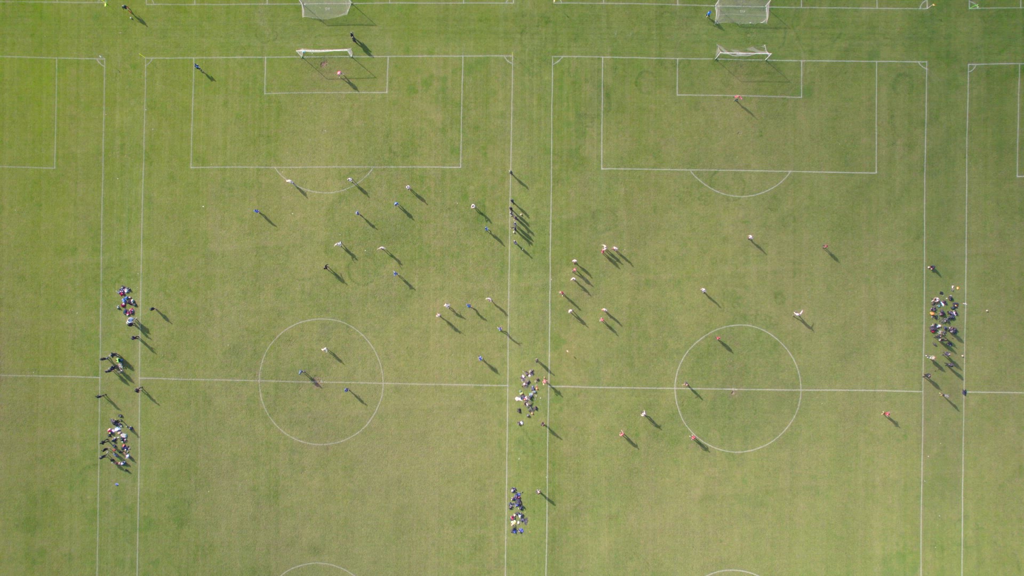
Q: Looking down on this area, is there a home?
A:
No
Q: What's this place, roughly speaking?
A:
sports ground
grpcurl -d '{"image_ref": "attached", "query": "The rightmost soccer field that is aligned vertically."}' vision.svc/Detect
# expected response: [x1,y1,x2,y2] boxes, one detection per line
[962,63,1024,576]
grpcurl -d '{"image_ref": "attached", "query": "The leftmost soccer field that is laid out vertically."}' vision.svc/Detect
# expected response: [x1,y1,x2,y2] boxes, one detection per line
[0,56,105,576]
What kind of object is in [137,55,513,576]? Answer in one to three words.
soccer field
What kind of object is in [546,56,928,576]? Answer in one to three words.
soccer field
